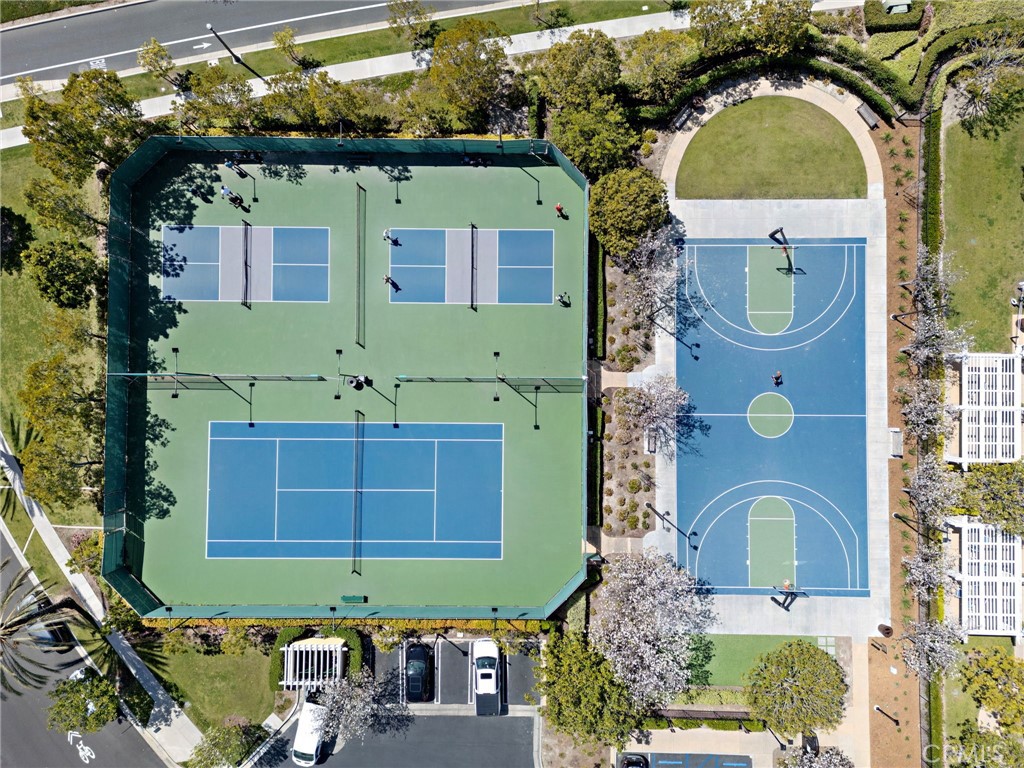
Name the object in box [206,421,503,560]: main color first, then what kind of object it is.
blue tennis court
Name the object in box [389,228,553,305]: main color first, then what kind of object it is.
blue sports court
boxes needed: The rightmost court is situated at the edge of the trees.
[676,238,870,597]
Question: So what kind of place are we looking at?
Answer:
sports ground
